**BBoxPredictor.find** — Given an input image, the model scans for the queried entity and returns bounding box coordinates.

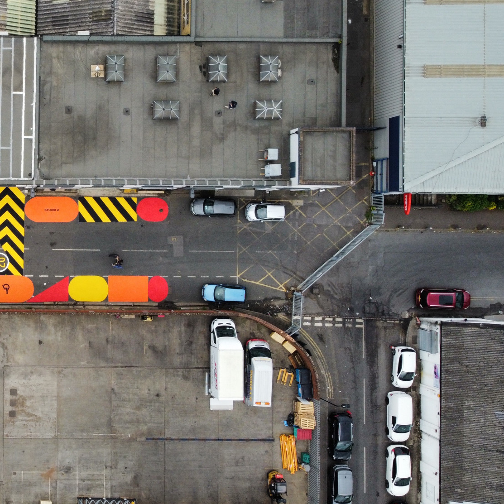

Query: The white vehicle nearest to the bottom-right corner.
[383,444,413,493]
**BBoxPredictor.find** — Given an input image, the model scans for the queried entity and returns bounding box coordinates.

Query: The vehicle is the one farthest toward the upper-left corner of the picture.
[189,195,236,219]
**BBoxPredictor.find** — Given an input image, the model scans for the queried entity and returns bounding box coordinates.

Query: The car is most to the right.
[413,286,469,312]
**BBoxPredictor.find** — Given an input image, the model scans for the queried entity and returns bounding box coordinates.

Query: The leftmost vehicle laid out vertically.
[201,316,243,406]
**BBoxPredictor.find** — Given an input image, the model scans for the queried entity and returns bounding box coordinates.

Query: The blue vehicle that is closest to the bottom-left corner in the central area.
[201,281,246,305]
